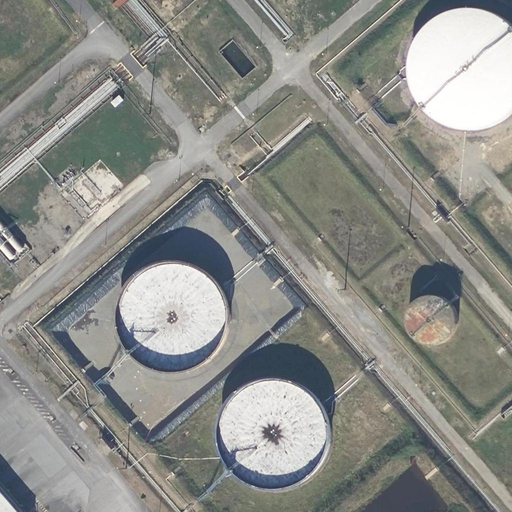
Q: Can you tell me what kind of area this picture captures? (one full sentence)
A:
This image shows an industrial area.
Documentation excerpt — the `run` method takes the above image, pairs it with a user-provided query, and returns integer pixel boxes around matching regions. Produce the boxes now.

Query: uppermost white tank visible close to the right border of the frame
[401,8,512,133]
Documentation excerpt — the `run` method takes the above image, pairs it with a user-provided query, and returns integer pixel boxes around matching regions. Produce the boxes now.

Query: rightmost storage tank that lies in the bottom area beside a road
[402,292,461,348]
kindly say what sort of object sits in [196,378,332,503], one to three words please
storage tank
